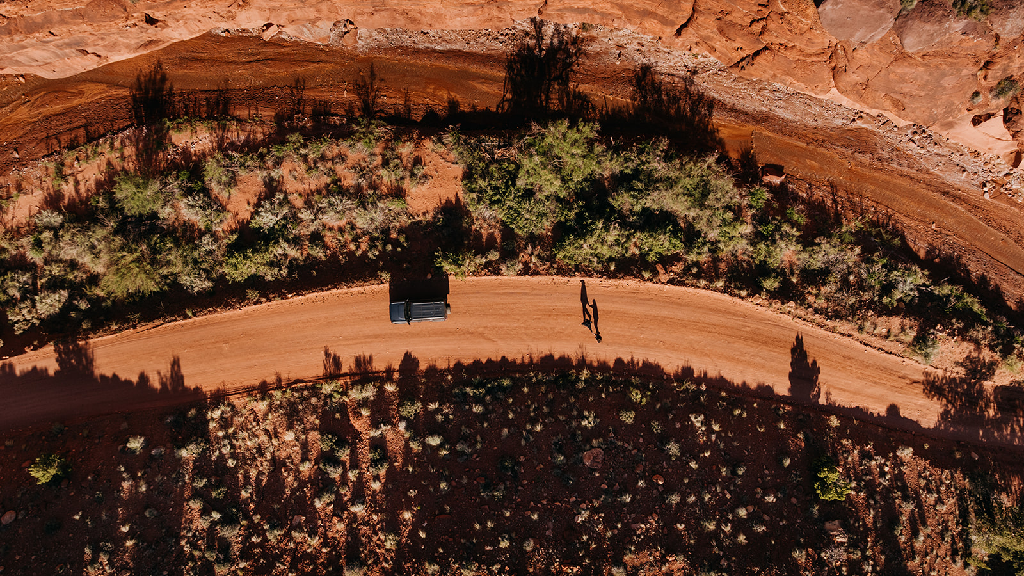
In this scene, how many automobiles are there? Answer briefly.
one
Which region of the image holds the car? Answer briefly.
center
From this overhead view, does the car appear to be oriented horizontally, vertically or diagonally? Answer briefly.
horizontally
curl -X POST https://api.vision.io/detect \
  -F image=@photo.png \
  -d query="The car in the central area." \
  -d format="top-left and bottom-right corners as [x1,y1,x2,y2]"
[390,297,452,326]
